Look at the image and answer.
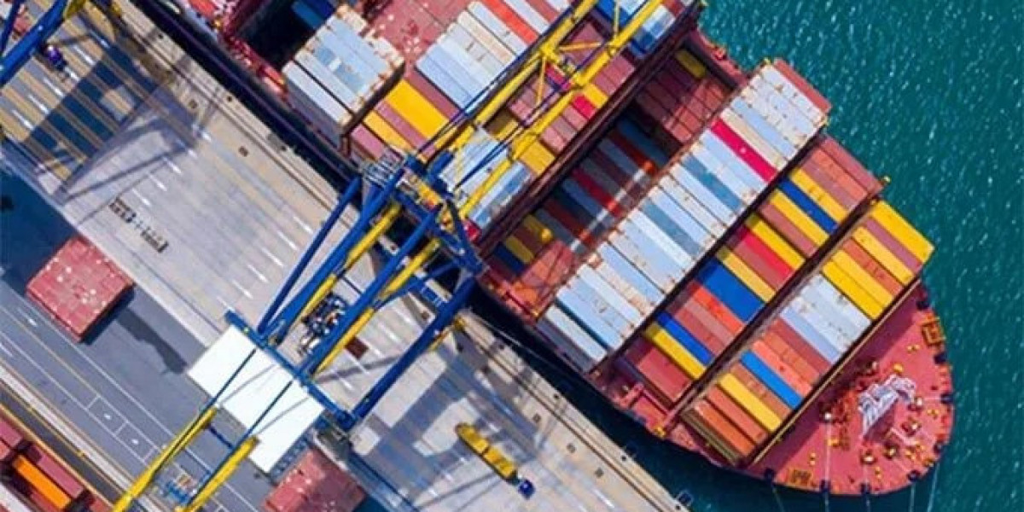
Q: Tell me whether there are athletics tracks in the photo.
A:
No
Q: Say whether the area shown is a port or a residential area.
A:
port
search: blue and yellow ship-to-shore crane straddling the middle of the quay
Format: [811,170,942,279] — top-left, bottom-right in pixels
[97,0,673,512]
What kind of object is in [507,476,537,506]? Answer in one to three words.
truck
